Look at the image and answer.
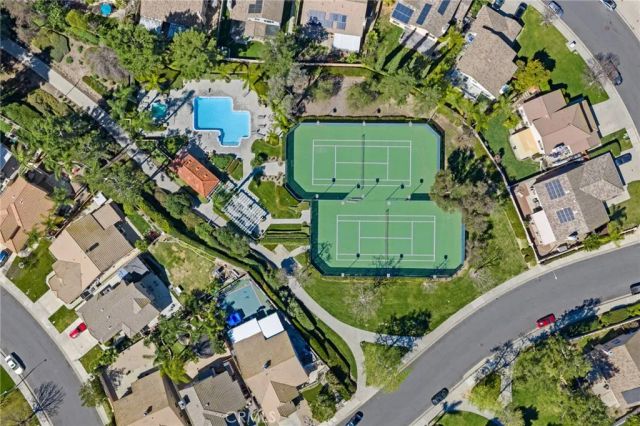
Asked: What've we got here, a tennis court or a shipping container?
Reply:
tennis court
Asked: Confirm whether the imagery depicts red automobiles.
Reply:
Yes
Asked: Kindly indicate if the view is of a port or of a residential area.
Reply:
residential area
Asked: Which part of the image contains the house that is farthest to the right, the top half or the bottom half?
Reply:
bottom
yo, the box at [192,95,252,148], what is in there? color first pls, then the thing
blue swimming pool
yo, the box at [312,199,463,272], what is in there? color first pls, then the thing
green tennis court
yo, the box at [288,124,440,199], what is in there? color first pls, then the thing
green tennis court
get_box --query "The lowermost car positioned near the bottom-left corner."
[5,354,23,373]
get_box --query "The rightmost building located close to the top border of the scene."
[454,6,522,101]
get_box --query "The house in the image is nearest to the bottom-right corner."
[586,323,640,409]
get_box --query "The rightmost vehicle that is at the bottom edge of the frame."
[431,387,449,405]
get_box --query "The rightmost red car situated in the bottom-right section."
[534,314,555,329]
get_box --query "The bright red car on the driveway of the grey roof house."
[69,321,87,339]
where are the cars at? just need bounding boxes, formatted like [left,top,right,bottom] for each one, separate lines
[5,354,23,373]
[69,321,87,339]
[534,314,555,329]
[547,0,564,18]
[0,247,11,266]
[626,282,640,294]
[599,0,618,14]
[431,387,449,405]
[612,152,632,165]
[491,0,505,12]
[346,409,363,426]
[512,1,529,21]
